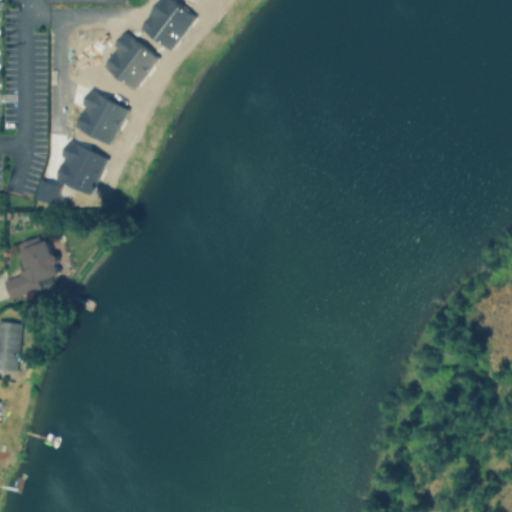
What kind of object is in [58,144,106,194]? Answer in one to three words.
house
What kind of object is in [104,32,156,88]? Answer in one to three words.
house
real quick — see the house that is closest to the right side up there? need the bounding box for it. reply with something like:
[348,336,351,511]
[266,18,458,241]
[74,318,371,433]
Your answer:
[140,0,193,50]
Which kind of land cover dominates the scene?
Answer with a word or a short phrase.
water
